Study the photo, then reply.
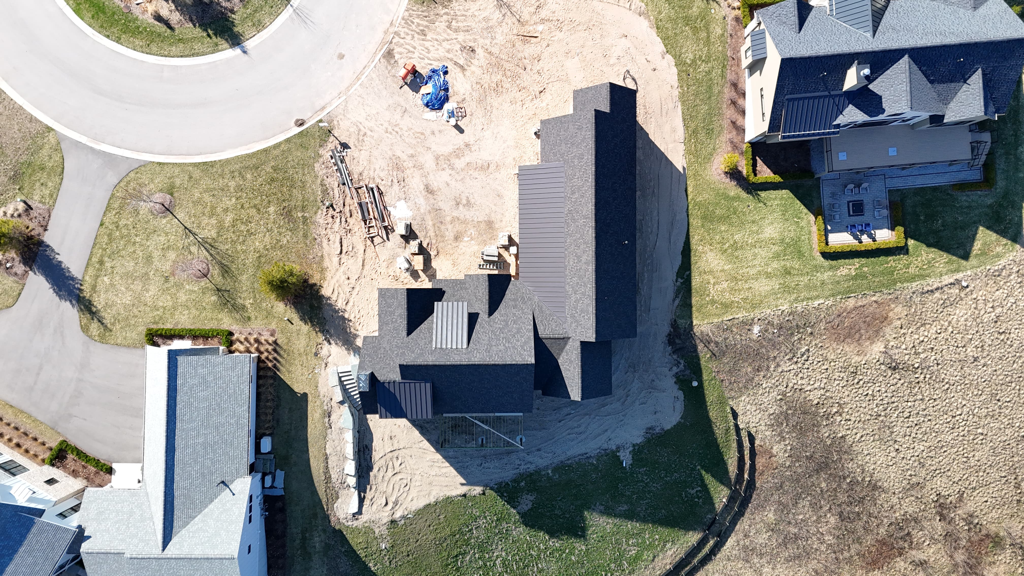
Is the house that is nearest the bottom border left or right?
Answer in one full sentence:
You can find the house that is nearest the bottom border on the left side of the picture.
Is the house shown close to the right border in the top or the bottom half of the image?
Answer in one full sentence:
The house shown close to the right border is in the top half of the image.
